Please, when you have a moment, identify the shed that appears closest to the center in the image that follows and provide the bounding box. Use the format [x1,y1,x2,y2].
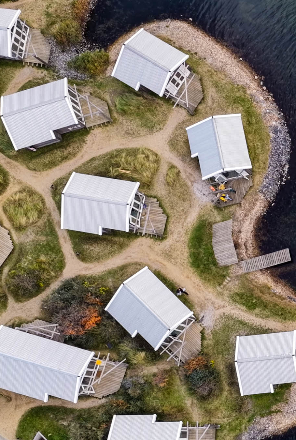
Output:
[60,172,171,246]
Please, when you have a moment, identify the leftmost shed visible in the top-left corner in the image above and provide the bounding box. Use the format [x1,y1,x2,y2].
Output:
[0,9,57,74]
